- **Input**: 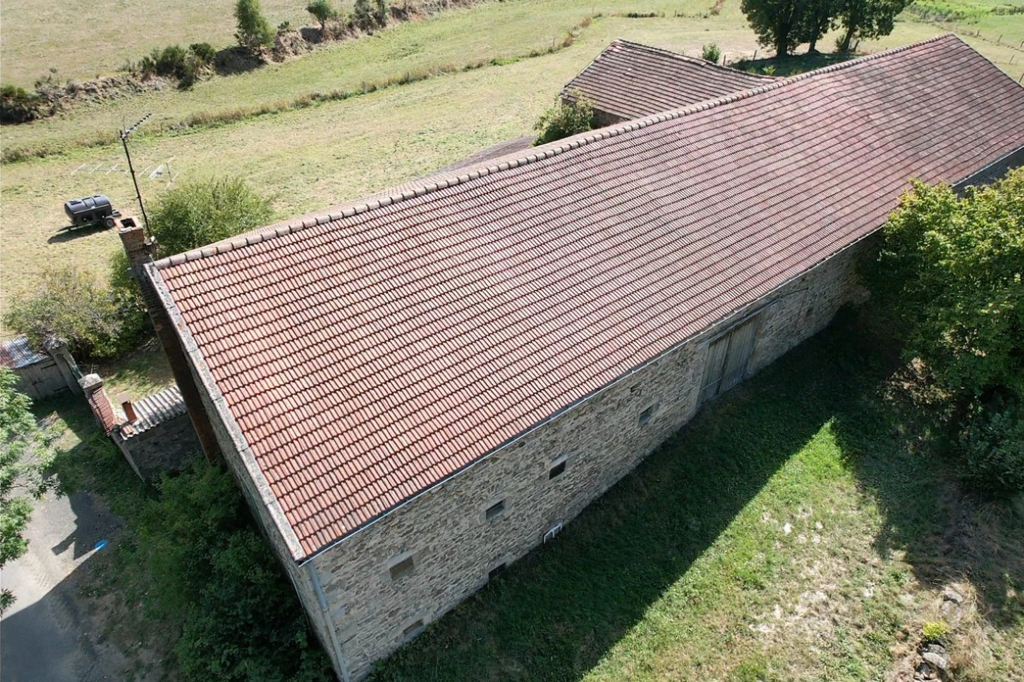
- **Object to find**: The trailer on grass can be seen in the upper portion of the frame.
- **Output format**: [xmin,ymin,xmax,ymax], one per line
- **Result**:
[51,192,121,229]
